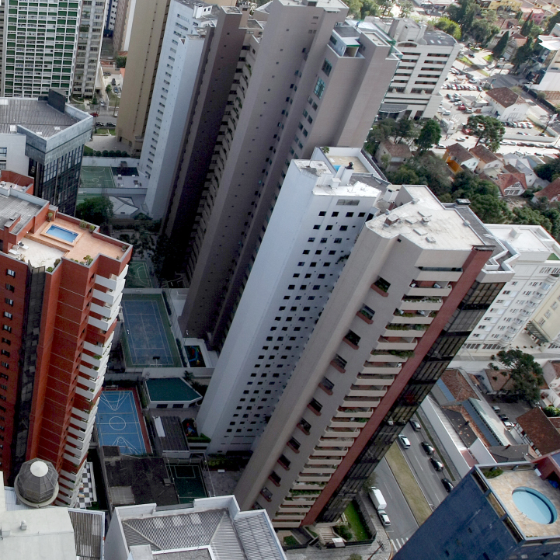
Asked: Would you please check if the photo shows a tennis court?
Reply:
Yes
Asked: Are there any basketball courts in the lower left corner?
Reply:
Yes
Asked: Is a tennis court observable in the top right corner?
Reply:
No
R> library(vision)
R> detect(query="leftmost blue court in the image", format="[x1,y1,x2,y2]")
[97,384,151,462]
